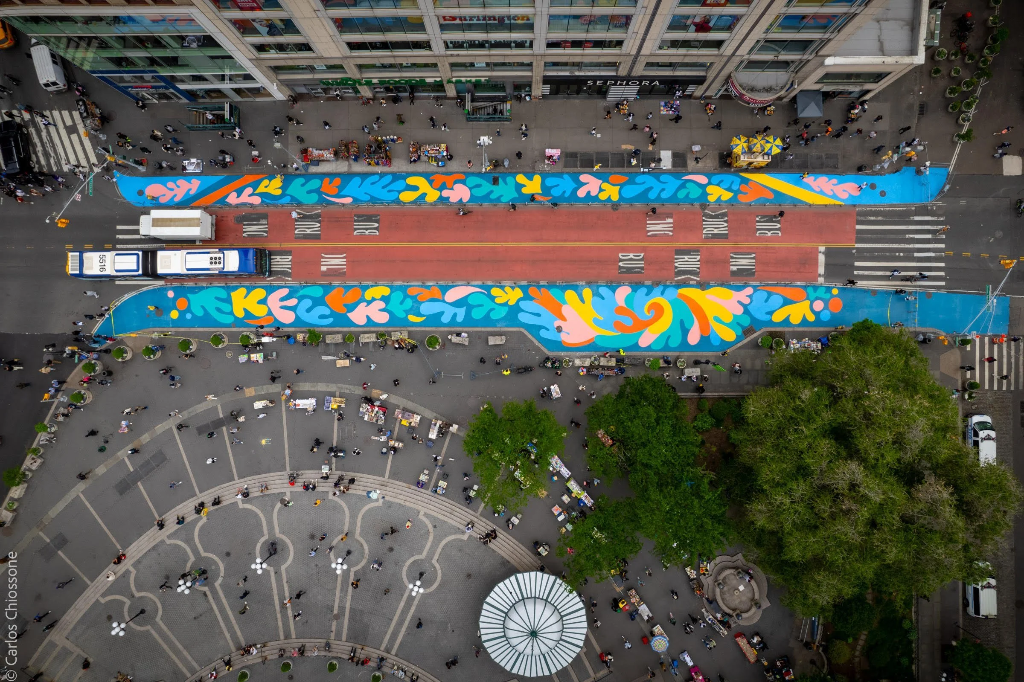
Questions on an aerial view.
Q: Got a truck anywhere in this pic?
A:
Yes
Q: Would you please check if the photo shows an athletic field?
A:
No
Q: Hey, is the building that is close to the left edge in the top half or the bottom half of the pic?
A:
top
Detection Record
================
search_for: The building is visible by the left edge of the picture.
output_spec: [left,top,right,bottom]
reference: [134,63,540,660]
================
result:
[0,0,284,103]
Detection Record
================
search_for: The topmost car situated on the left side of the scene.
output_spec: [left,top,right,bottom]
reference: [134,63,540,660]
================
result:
[0,20,25,55]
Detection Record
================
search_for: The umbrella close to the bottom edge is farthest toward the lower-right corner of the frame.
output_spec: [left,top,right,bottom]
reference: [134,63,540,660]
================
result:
[650,633,668,651]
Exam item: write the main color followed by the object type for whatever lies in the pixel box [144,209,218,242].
white truck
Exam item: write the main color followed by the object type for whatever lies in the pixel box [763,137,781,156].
yellow umbrella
